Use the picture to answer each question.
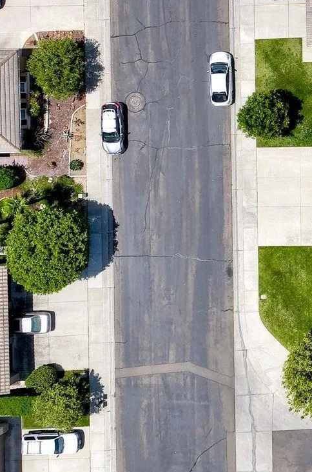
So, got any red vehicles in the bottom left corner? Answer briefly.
No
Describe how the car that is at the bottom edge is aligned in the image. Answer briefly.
from side to side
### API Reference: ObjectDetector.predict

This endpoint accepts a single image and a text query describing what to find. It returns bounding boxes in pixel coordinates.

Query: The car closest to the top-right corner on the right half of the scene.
[208,51,235,106]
